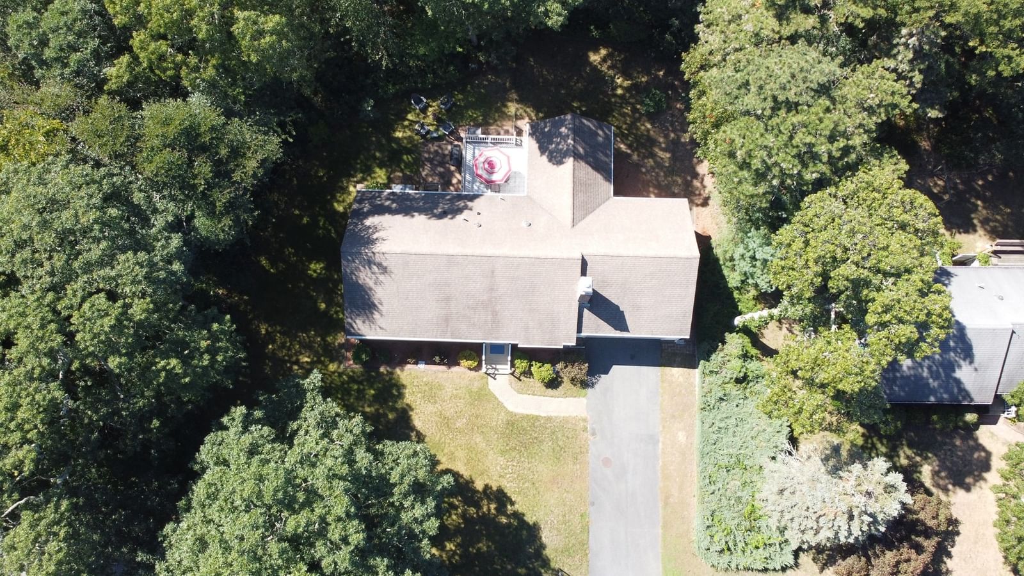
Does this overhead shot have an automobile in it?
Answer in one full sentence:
No, this view has no automobile in it.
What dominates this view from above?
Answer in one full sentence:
Most of the picture is covered by trees.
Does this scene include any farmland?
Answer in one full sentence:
No, farmland can't be seen anywhere here.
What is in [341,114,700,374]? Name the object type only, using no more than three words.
house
